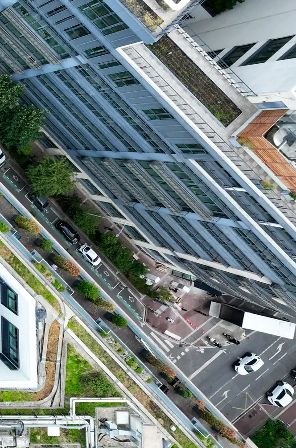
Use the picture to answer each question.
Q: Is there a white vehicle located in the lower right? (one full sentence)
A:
Yes, I can see a white vehicle in the lower right.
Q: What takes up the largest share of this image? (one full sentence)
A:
For the most part, this view shows buildings.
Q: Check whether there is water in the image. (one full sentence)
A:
No, no water is visible.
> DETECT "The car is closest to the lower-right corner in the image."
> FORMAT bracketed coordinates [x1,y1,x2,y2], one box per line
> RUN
[267,383,292,407]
